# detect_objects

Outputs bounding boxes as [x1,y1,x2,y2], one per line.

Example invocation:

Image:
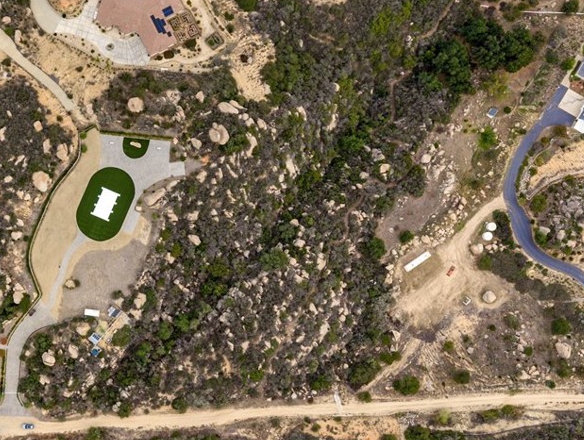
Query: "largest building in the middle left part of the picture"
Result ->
[91,187,120,222]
